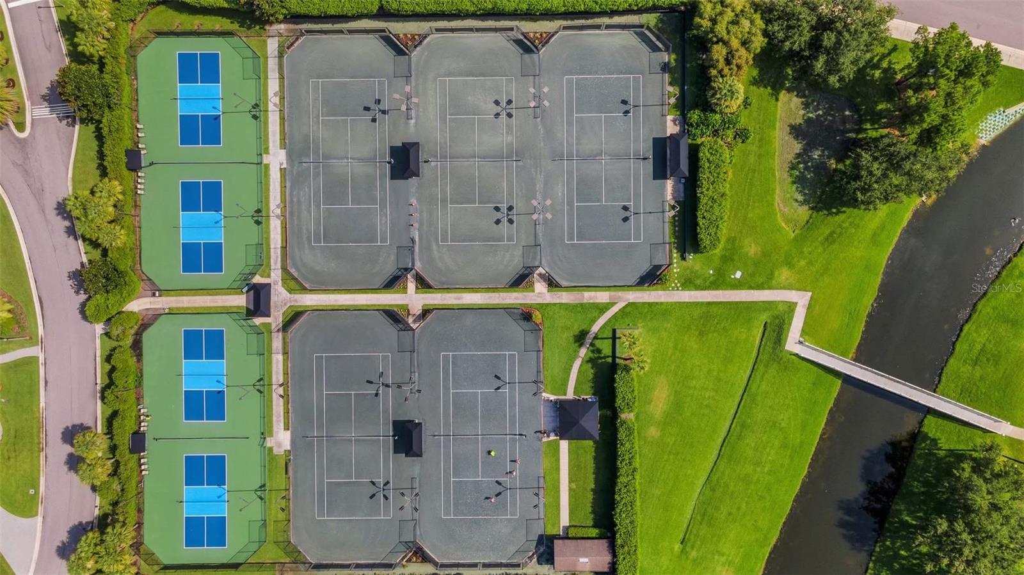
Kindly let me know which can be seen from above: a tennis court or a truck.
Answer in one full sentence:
Looking from above, you can make out a tennis court.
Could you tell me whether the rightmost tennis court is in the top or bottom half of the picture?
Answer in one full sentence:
The top half of the photo is where the rightmost tennis court is.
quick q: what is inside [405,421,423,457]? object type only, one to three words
building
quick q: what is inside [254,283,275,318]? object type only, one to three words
building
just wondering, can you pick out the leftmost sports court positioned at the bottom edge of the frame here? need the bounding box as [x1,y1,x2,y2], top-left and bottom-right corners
[143,439,267,564]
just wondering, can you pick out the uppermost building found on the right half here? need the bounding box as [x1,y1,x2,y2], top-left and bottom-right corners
[665,133,689,178]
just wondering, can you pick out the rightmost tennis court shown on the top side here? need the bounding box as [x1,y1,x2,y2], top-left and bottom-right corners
[540,29,670,287]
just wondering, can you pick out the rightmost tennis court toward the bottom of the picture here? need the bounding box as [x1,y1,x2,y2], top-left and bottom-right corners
[415,307,545,563]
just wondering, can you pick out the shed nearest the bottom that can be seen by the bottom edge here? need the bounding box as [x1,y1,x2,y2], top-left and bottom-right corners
[554,535,613,572]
